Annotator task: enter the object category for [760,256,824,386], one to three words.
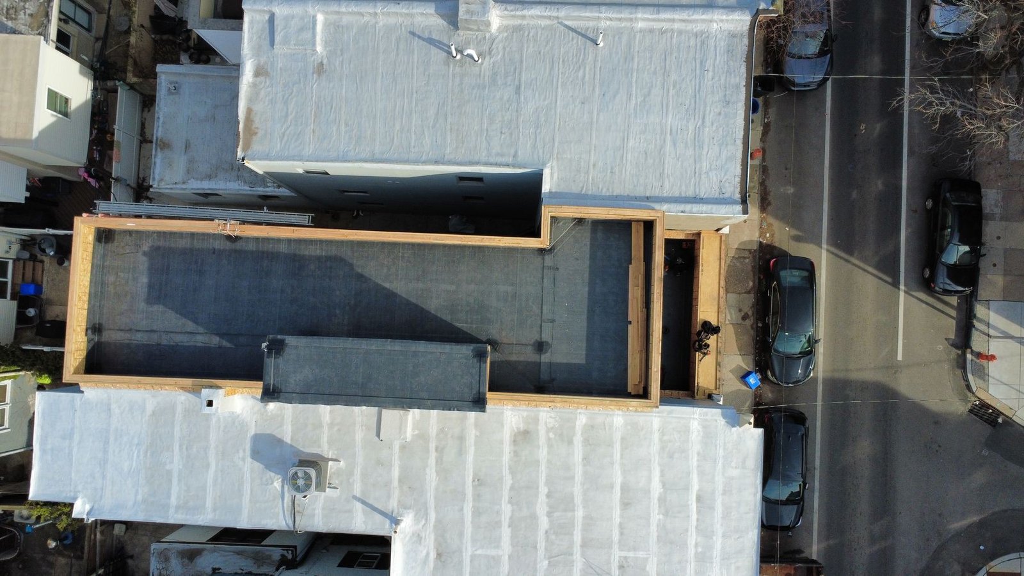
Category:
car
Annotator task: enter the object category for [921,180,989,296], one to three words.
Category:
car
